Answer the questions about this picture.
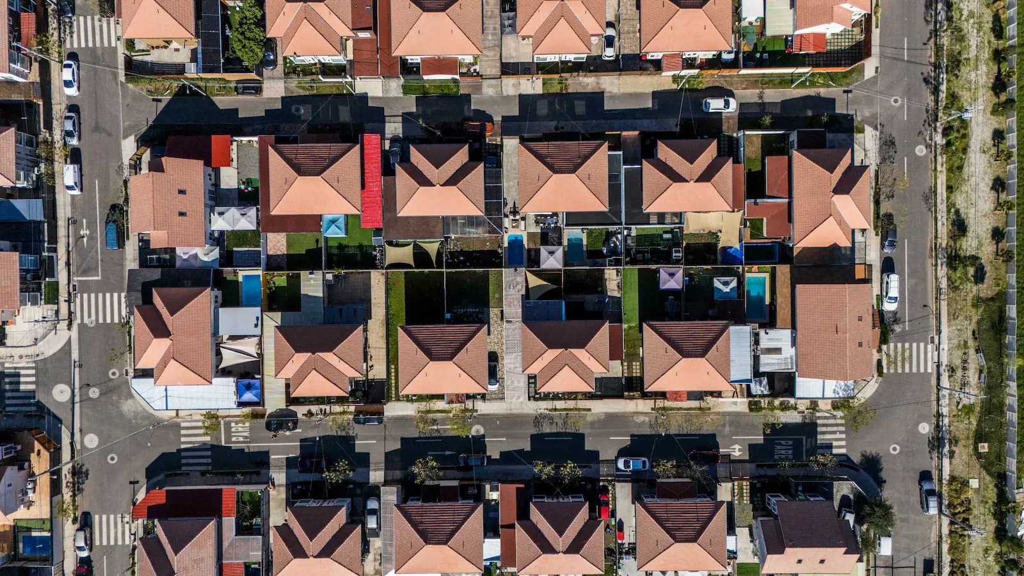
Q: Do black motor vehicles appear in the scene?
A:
Yes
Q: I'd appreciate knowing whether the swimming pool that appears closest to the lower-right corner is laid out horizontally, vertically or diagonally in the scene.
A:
vertically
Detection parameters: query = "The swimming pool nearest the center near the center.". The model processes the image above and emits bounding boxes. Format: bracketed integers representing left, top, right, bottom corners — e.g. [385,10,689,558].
[505,232,525,266]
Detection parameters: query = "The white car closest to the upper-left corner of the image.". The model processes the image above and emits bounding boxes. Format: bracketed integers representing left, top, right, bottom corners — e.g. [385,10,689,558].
[63,61,83,97]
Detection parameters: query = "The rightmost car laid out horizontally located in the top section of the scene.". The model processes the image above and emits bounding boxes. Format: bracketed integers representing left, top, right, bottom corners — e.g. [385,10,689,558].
[702,95,736,113]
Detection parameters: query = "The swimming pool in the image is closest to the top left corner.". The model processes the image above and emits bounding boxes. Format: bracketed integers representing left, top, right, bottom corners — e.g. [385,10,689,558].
[230,248,260,267]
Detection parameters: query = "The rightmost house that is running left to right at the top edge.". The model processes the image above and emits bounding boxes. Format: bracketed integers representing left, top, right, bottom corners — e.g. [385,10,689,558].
[784,0,872,37]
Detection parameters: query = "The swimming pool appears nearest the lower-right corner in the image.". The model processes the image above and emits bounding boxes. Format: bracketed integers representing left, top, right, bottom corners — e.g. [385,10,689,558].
[745,274,768,322]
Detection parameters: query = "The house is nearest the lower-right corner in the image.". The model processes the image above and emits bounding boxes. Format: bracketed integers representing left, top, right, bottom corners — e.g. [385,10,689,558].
[751,490,871,576]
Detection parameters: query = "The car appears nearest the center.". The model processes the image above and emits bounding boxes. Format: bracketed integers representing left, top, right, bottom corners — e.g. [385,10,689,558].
[488,354,502,388]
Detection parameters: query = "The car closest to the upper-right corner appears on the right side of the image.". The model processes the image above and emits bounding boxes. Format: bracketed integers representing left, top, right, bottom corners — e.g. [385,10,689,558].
[879,222,898,257]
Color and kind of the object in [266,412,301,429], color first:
black car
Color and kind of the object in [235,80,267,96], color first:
black car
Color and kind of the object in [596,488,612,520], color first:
red car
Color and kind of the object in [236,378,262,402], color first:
blue gazebo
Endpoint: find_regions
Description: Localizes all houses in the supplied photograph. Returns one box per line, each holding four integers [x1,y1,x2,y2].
[0,445,25,523]
[133,286,226,387]
[643,138,733,213]
[265,0,360,67]
[515,492,605,575]
[638,320,733,393]
[393,495,484,576]
[271,495,366,576]
[0,251,45,312]
[638,0,732,62]
[136,514,222,576]
[633,492,727,573]
[269,143,361,215]
[0,125,40,188]
[517,0,607,64]
[518,140,609,214]
[397,323,488,396]
[520,319,611,394]
[121,0,200,49]
[129,152,220,250]
[392,0,482,66]
[395,142,485,217]
[273,324,368,398]
[751,490,871,576]
[787,283,873,383]
[0,0,36,83]
[780,147,872,248]
[784,0,872,37]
